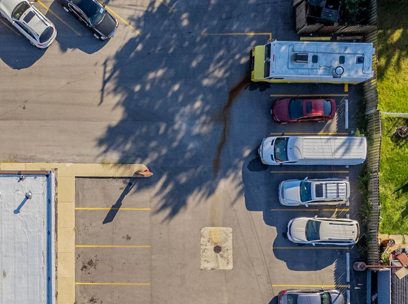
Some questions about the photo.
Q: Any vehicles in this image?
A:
Yes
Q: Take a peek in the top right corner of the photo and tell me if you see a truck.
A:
Yes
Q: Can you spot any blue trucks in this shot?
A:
Yes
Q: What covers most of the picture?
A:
paved ground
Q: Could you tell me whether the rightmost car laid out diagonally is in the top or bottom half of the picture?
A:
top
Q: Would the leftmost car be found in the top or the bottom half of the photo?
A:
top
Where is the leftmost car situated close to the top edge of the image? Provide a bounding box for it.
[0,0,56,49]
